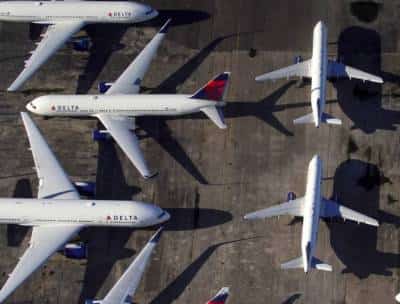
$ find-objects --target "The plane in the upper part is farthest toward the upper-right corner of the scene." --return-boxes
[255,21,382,127]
